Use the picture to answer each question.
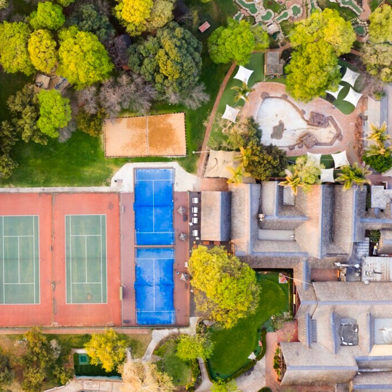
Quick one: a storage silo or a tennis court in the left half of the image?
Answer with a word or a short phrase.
tennis court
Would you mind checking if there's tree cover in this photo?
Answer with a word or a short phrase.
Yes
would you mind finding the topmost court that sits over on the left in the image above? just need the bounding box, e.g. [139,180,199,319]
[105,112,187,158]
